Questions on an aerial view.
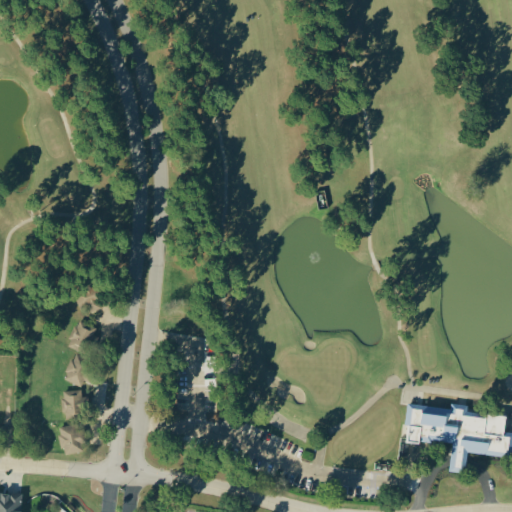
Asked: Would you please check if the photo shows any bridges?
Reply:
No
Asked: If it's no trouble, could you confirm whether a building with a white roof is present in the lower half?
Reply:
Yes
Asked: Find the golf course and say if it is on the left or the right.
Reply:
right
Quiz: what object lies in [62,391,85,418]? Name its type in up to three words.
house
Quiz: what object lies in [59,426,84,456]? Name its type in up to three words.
house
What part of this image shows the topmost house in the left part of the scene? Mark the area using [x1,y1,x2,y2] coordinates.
[64,324,95,352]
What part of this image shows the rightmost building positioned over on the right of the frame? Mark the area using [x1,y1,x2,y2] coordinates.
[406,404,512,474]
